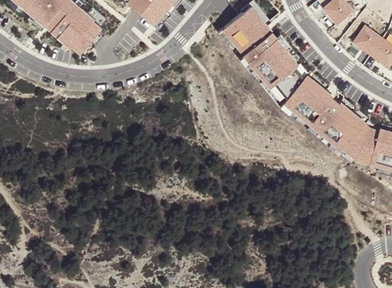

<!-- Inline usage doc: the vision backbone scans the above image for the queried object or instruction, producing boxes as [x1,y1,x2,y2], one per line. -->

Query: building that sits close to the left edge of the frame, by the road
[6,0,106,54]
